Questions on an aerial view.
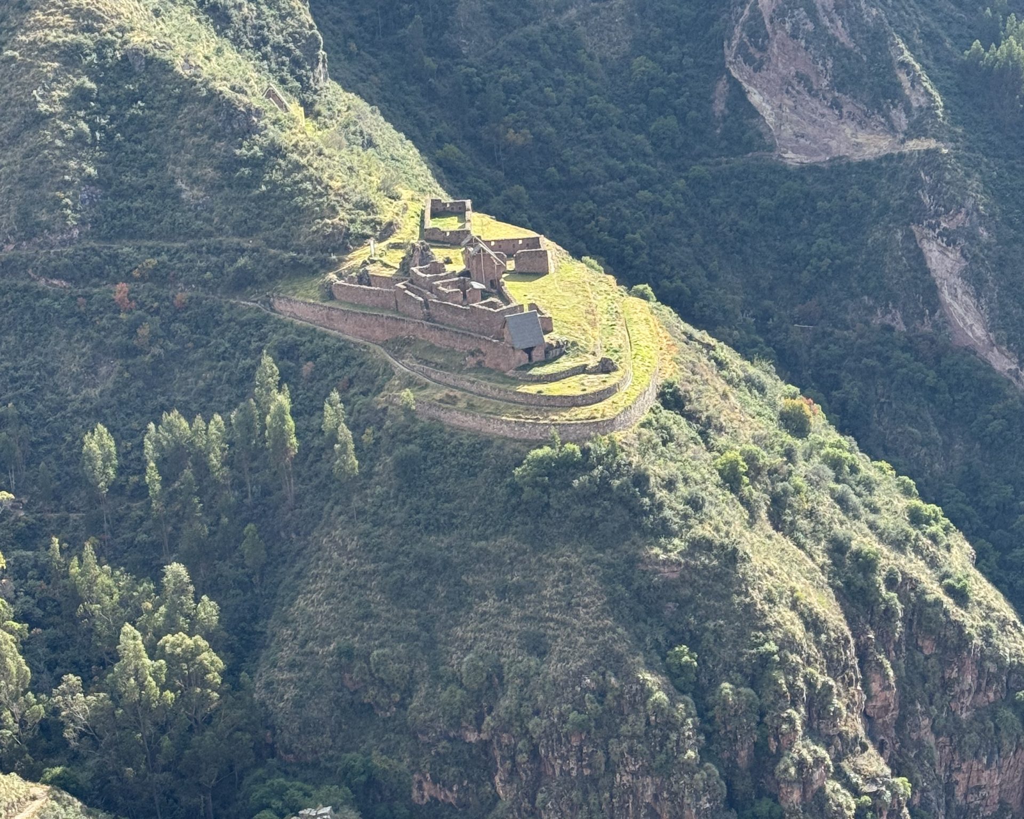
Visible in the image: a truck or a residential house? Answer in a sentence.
I can see a residential house in this picture.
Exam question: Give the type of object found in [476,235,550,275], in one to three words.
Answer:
building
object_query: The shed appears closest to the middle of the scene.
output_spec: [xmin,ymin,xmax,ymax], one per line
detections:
[505,309,549,373]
